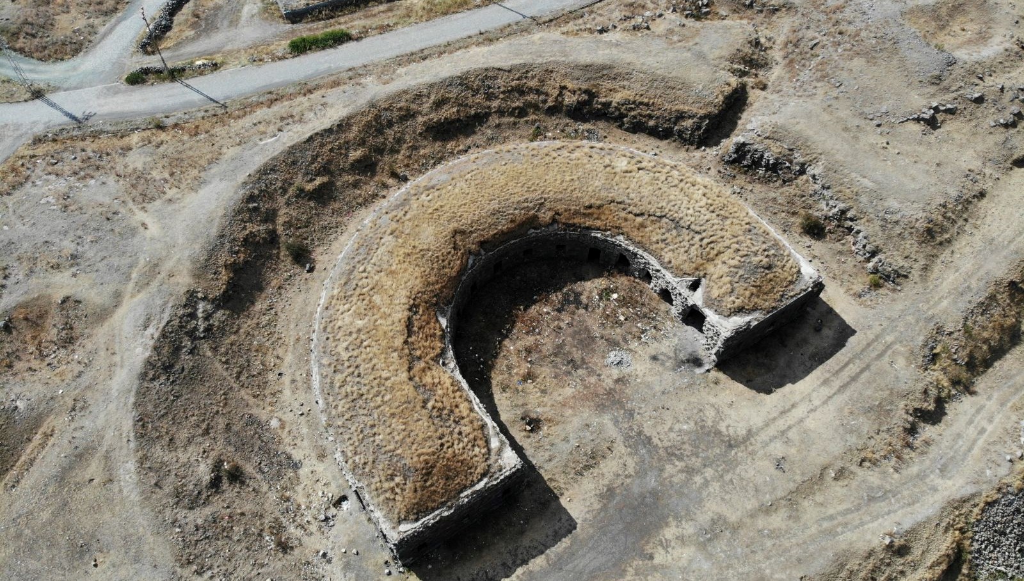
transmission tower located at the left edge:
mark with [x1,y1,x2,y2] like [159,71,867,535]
[0,29,43,99]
